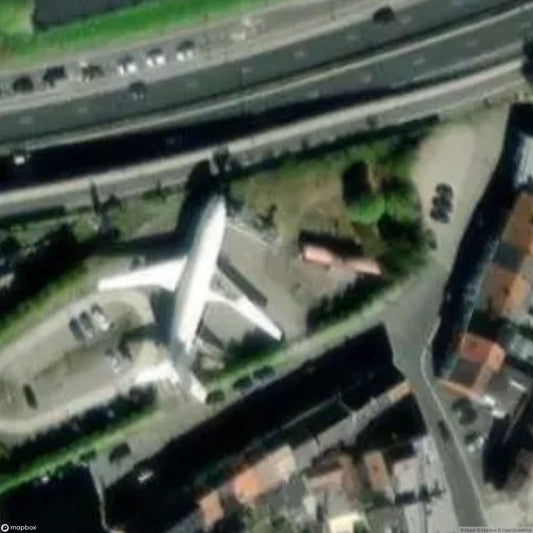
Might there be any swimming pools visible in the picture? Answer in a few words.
No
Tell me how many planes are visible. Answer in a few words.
1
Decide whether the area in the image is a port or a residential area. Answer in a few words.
residential area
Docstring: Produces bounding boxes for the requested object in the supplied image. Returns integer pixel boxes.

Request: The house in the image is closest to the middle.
[298,235,335,264]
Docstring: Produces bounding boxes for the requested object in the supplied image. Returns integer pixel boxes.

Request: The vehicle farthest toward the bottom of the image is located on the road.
[133,466,156,484]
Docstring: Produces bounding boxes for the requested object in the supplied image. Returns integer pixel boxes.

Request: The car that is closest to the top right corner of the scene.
[372,9,398,24]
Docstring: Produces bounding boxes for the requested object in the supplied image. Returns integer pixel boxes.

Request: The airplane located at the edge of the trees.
[98,196,281,403]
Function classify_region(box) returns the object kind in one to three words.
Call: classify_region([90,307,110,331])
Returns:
car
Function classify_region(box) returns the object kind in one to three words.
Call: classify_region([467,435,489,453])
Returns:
car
